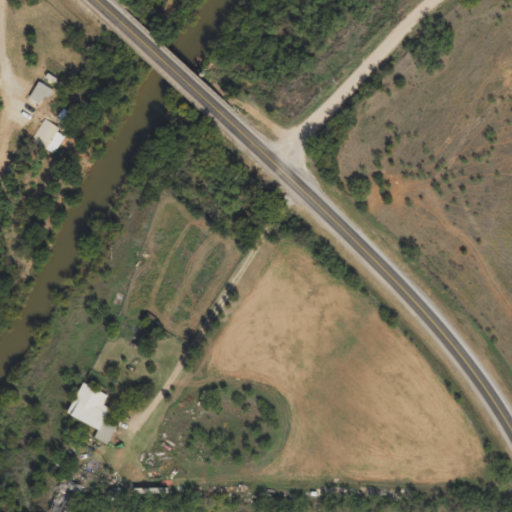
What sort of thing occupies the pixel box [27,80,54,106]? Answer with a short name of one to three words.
house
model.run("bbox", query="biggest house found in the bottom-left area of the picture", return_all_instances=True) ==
[67,382,109,430]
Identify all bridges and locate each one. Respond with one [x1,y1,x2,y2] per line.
[110,10,235,127]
